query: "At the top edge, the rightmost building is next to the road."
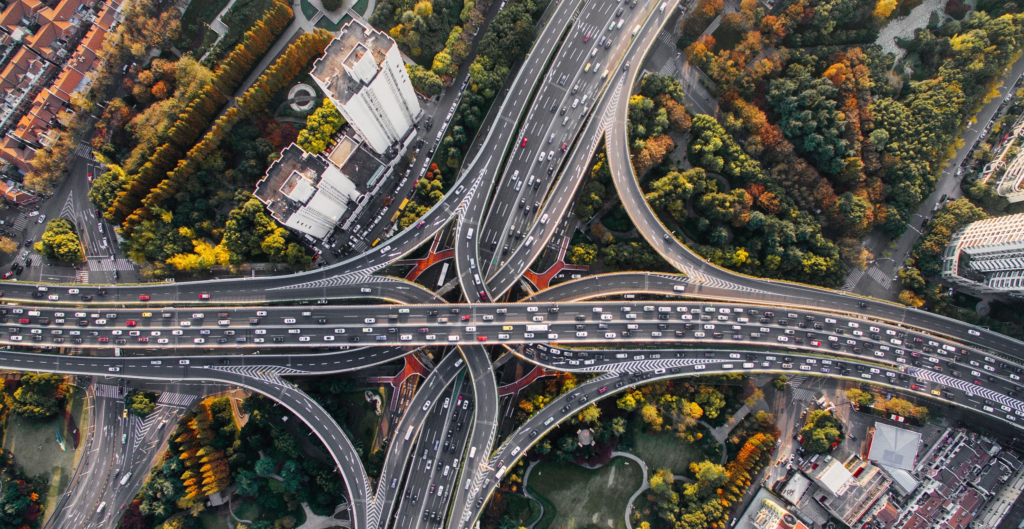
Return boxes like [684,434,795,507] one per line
[310,19,418,153]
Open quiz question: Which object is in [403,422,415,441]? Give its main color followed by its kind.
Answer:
white vehicle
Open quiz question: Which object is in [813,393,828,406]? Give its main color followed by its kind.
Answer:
white vehicle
